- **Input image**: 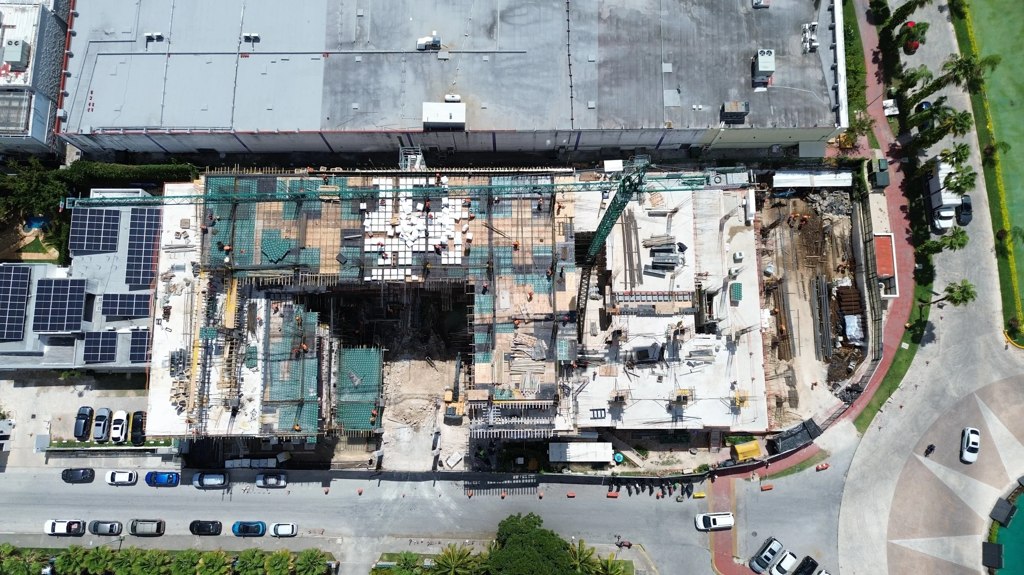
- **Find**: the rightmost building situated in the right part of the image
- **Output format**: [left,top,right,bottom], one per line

[872,232,900,299]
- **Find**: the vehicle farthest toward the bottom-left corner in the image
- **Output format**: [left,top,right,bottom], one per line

[44,518,88,537]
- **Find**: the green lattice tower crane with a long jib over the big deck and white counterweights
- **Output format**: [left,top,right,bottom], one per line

[65,151,758,270]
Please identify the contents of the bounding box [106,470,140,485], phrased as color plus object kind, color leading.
white car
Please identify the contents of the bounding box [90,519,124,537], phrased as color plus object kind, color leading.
gray car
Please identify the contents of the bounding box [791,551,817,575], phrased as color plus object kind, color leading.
black car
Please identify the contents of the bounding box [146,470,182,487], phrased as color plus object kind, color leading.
blue car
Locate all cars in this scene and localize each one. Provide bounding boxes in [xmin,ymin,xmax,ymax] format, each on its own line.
[91,408,116,443]
[791,551,817,575]
[73,405,98,441]
[233,520,266,538]
[109,410,133,444]
[128,518,168,537]
[146,470,182,487]
[106,470,140,485]
[752,536,779,574]
[128,410,148,446]
[771,546,794,575]
[270,522,298,537]
[64,467,96,484]
[194,471,230,489]
[815,560,835,575]
[695,512,733,531]
[956,196,973,226]
[90,519,124,537]
[256,472,289,488]
[192,519,223,536]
